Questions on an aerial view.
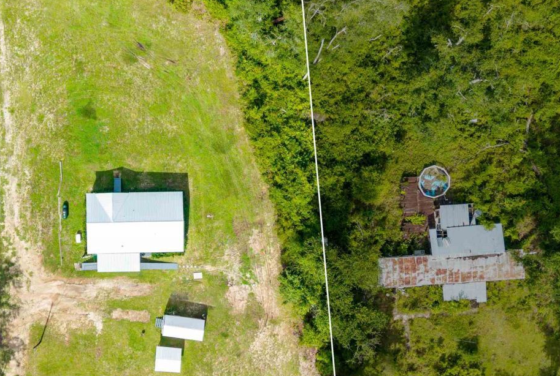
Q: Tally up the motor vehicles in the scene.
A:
0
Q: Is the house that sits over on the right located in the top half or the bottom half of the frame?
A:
bottom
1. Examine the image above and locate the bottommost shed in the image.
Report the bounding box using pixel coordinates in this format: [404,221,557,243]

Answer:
[155,345,182,373]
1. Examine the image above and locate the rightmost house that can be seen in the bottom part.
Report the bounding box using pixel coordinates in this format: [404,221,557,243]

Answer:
[374,204,536,304]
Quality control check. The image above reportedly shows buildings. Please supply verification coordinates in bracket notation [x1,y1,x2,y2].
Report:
[374,204,536,304]
[160,314,205,342]
[155,345,182,373]
[82,178,184,273]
